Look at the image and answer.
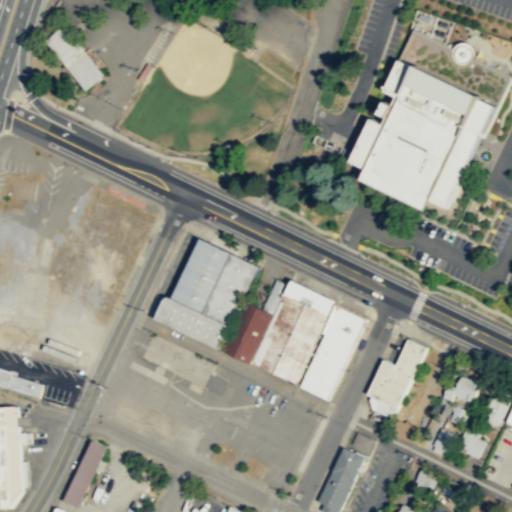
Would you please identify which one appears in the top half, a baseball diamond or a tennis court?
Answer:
baseball diamond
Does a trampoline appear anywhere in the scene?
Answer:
No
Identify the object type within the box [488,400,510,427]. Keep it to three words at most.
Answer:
house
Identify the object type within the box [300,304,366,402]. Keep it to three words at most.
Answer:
building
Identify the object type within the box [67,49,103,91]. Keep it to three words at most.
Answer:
building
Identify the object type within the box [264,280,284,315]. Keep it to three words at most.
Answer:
shed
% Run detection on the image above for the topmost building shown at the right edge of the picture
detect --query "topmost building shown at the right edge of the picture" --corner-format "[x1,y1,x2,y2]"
[347,10,512,210]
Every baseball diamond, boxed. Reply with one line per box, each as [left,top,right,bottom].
[124,23,290,150]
